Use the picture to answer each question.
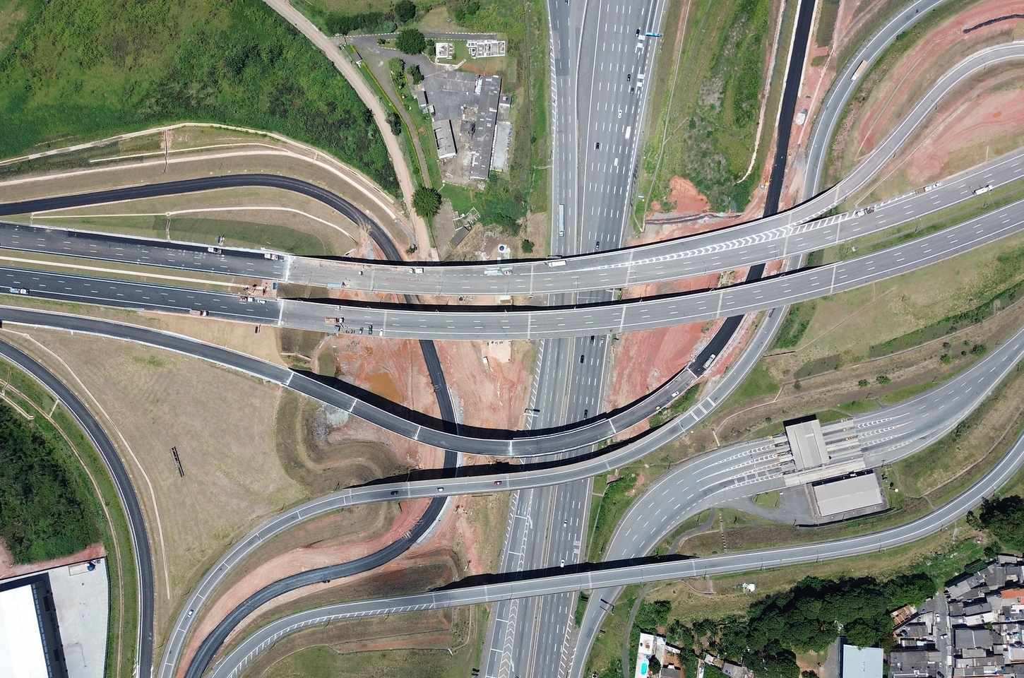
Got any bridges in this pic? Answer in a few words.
Yes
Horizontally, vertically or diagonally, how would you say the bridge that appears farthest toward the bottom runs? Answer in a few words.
horizontally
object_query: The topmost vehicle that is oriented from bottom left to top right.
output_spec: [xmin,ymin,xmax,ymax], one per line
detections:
[851,58,870,79]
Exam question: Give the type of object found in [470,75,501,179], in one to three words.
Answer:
building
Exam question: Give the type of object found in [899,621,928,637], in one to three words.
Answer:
house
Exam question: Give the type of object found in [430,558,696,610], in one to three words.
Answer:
bridge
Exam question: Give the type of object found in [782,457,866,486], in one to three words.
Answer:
building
